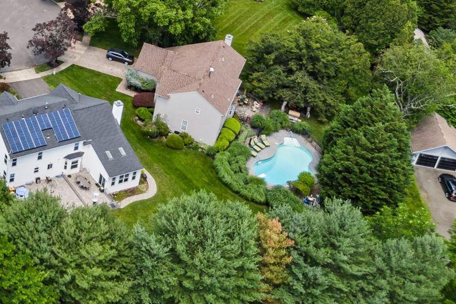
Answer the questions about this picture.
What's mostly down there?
trees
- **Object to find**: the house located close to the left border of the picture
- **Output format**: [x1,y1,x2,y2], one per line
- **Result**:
[0,82,144,189]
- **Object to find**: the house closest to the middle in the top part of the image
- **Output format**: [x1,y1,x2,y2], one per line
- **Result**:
[131,30,247,143]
